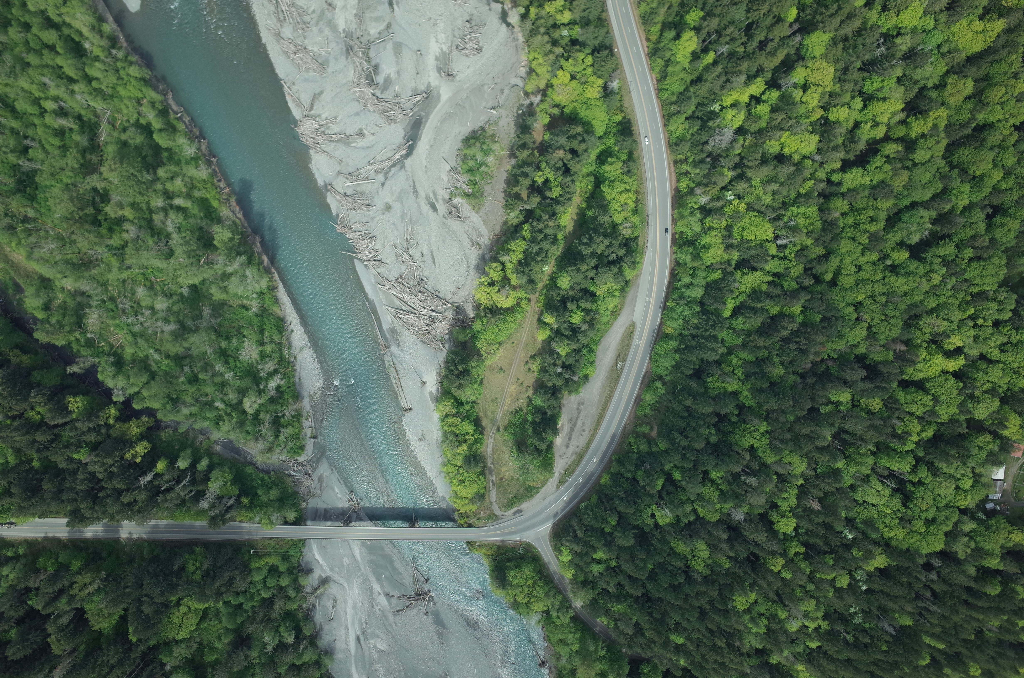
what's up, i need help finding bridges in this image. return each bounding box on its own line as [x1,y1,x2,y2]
[302,520,473,541]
